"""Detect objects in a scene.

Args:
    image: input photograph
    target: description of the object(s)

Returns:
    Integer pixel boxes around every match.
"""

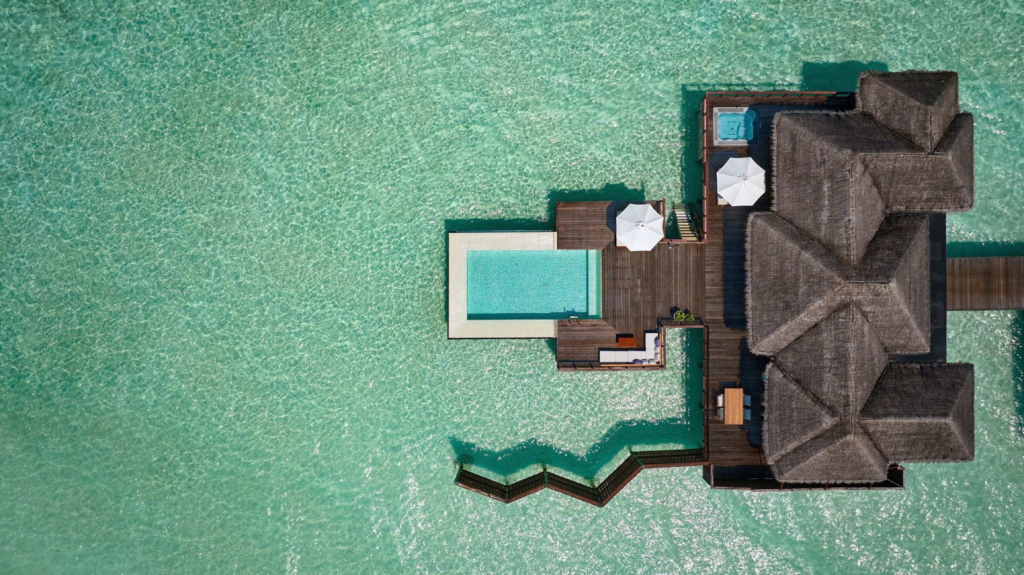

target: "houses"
[742,67,975,484]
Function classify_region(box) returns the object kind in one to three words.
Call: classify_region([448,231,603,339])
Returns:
swimming pool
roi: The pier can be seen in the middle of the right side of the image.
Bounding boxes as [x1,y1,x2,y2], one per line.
[946,255,1024,310]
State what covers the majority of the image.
water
